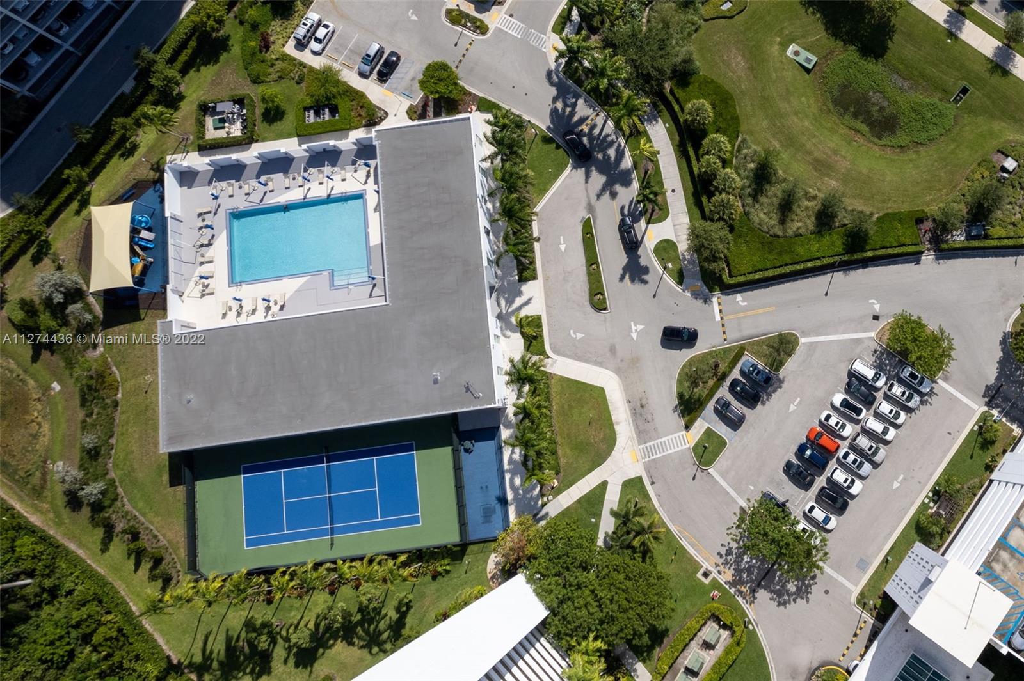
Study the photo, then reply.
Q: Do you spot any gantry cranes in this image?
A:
No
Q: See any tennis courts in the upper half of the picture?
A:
No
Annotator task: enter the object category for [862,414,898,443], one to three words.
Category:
car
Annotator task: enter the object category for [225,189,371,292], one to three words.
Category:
swimming pool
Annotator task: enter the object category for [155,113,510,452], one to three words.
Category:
building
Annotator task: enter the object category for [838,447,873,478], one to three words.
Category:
car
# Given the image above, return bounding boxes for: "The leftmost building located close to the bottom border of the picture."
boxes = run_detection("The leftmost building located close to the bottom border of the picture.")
[356,575,576,681]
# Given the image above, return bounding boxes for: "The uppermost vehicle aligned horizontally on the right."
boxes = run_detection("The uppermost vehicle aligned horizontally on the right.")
[661,324,699,342]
